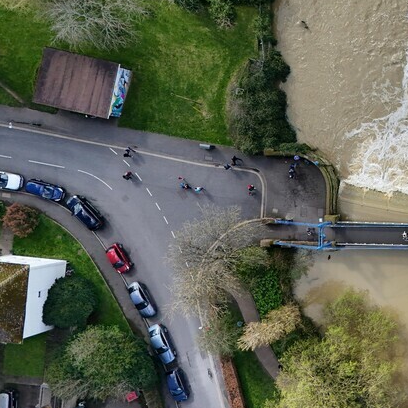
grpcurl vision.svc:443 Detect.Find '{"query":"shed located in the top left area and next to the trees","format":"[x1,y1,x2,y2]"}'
[33,47,131,119]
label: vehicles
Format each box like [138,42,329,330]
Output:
[161,365,192,407]
[21,180,66,204]
[124,278,158,322]
[102,239,134,278]
[0,388,18,408]
[145,323,179,369]
[62,191,107,236]
[0,171,22,193]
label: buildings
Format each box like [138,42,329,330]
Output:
[0,254,66,347]
[33,47,131,119]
